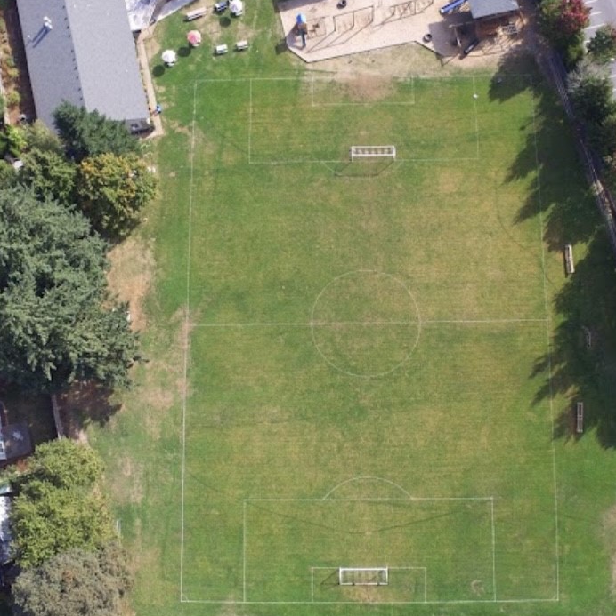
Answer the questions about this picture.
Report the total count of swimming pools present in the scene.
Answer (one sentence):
The picture shows no swimming pools.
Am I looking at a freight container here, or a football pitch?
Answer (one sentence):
The one in the frame is a football pitch.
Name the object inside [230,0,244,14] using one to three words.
umbrella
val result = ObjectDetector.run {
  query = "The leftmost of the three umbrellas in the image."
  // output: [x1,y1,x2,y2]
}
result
[163,50,177,65]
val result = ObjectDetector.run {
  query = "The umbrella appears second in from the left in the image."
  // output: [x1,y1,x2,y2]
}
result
[188,32,202,48]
